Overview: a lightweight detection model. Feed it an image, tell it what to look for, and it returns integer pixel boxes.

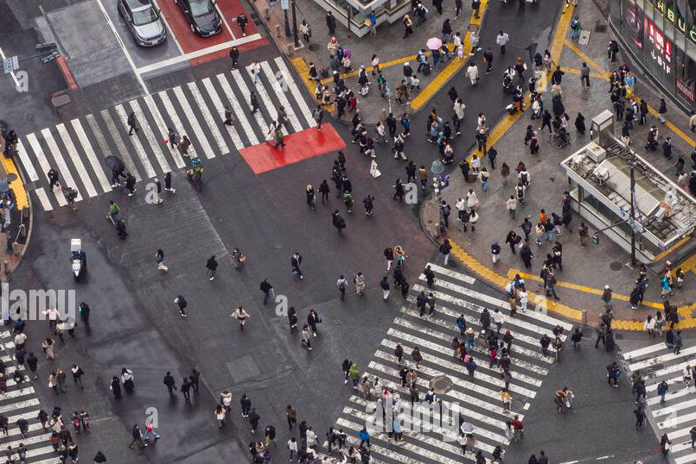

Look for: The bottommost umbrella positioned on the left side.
[103,155,124,179]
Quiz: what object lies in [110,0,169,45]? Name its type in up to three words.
car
